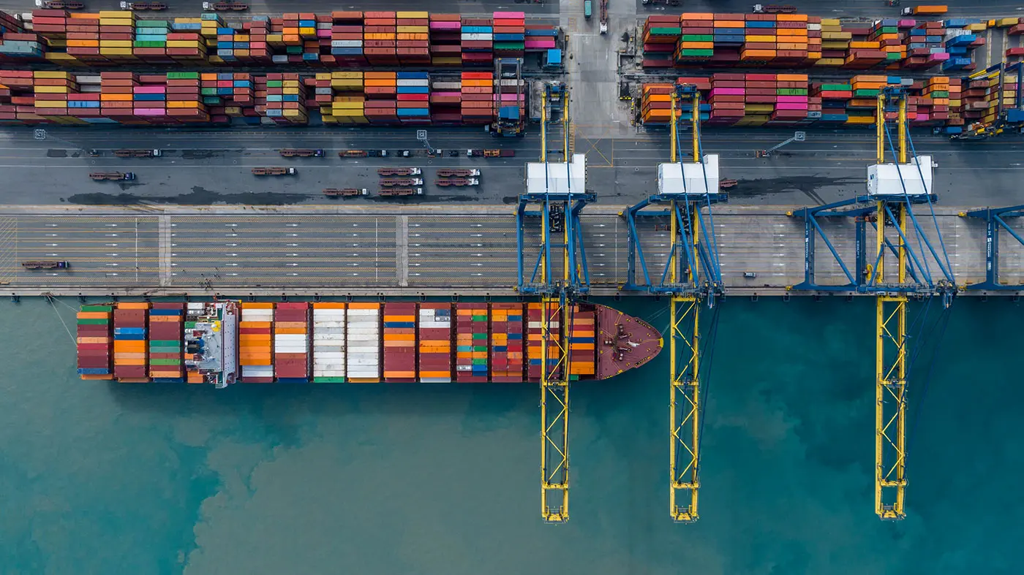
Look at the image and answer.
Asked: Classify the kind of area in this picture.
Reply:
port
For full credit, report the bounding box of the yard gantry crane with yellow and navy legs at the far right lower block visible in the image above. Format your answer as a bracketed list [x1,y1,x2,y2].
[954,62,1024,140]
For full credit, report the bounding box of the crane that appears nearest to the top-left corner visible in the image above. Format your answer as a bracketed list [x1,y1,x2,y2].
[492,59,526,139]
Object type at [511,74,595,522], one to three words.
container crane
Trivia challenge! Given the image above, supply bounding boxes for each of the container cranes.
[954,62,1024,140]
[492,59,526,139]
[511,74,595,522]
[786,76,961,520]
[961,203,1024,290]
[616,75,726,521]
